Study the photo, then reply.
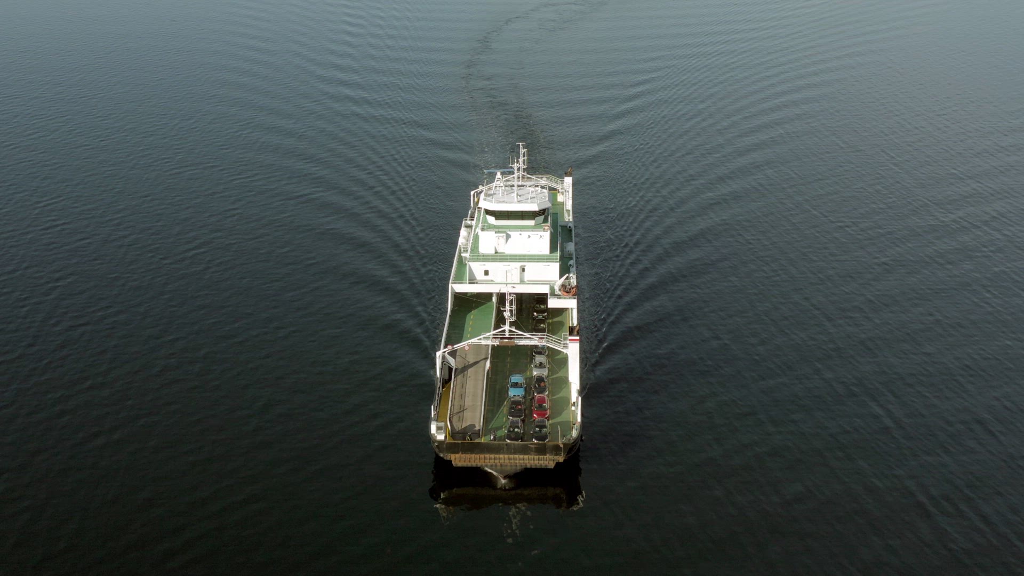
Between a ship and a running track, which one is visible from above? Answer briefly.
ship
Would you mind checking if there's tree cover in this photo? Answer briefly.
No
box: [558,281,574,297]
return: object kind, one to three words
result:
boat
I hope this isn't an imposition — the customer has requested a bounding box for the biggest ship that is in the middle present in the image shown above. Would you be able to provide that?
[430,144,582,482]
